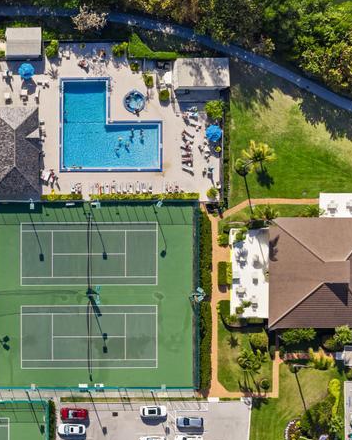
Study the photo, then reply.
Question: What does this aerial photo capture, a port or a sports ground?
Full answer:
It's a sports ground.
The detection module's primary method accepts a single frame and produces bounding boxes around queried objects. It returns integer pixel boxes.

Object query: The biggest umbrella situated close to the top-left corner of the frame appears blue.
[18,63,34,79]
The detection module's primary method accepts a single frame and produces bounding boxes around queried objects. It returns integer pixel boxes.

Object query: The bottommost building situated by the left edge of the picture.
[0,106,42,201]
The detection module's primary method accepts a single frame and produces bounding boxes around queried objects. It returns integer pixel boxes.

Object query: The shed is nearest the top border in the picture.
[6,27,42,61]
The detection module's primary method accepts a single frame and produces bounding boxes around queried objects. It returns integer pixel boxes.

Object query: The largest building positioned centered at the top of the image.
[170,58,231,90]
